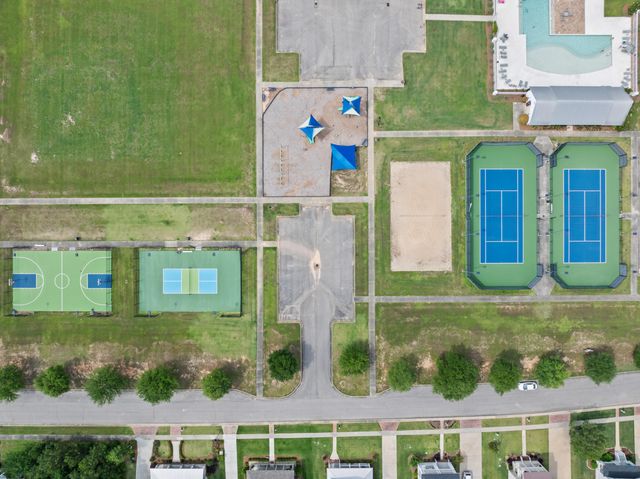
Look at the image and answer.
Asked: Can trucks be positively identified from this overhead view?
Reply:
No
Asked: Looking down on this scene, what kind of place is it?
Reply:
sports ground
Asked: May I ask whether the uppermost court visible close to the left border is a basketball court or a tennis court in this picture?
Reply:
basketball court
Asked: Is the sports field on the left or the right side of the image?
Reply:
left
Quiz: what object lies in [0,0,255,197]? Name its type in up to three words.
sports field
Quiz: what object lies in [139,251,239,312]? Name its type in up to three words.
sports court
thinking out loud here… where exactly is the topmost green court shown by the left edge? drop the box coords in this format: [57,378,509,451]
[12,251,111,311]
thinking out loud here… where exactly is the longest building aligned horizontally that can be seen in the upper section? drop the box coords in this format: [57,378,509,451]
[527,86,633,126]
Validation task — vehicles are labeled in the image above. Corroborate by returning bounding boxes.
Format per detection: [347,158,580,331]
[519,380,539,390]
[462,470,471,479]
